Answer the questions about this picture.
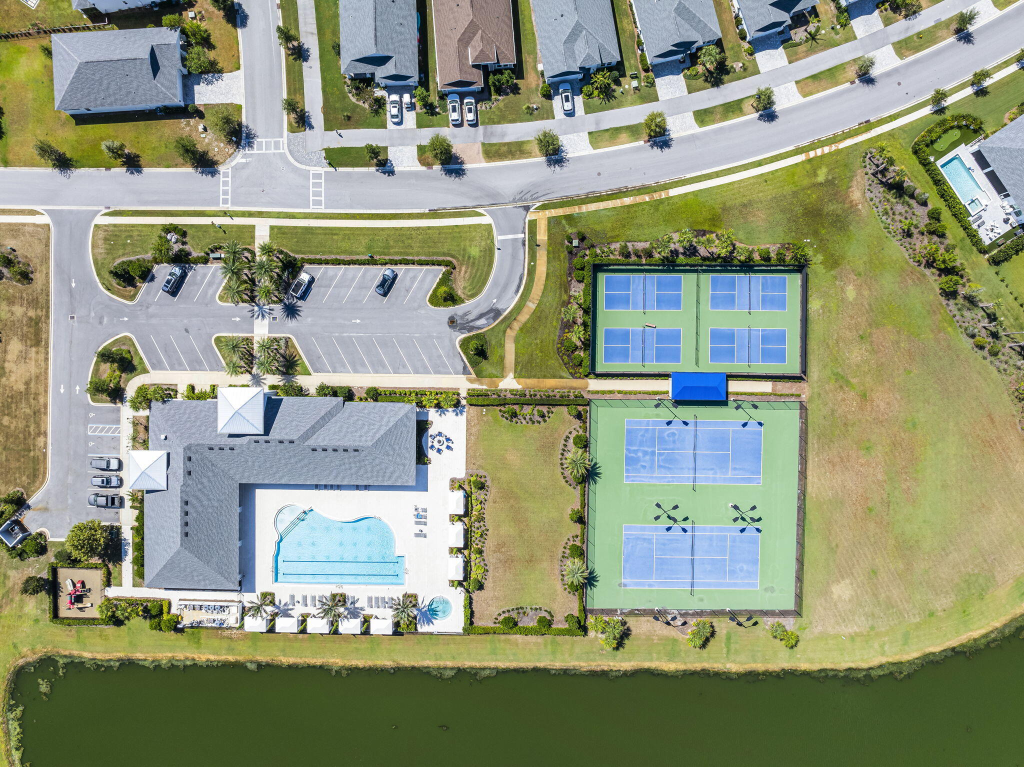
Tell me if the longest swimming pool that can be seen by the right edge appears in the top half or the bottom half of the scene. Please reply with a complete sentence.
The top half of the photo is where the longest swimming pool that can be seen by the right edge is.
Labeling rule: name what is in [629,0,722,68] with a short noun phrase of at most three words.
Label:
house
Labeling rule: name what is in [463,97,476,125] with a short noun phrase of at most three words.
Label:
vehicle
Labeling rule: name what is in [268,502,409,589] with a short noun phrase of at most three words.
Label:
swimming pool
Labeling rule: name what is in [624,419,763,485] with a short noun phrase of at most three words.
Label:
tennis court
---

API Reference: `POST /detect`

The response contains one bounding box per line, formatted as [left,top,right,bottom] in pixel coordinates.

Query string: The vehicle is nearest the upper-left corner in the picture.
[161,265,186,295]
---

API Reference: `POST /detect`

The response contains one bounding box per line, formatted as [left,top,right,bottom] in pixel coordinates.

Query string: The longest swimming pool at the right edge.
[937,151,995,210]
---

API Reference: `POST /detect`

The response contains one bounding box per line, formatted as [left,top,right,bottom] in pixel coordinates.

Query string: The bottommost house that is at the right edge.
[960,116,1024,230]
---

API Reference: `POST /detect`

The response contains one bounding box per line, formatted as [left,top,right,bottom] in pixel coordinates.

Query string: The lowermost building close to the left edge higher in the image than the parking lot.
[51,27,194,114]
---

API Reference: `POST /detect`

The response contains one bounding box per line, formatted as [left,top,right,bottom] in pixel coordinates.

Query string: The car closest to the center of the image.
[376,268,397,297]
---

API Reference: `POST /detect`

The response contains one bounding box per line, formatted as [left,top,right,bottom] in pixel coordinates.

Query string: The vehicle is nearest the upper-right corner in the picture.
[559,84,573,114]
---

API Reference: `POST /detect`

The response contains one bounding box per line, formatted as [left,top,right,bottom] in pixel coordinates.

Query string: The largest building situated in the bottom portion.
[129,387,416,590]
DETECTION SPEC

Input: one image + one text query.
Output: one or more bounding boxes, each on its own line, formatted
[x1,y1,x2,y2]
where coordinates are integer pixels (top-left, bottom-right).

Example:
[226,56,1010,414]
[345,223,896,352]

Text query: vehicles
[91,475,122,488]
[402,93,411,111]
[463,97,476,125]
[90,457,123,471]
[389,95,401,123]
[376,268,397,297]
[448,95,461,125]
[89,494,122,508]
[161,265,186,295]
[559,84,573,114]
[290,271,314,300]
